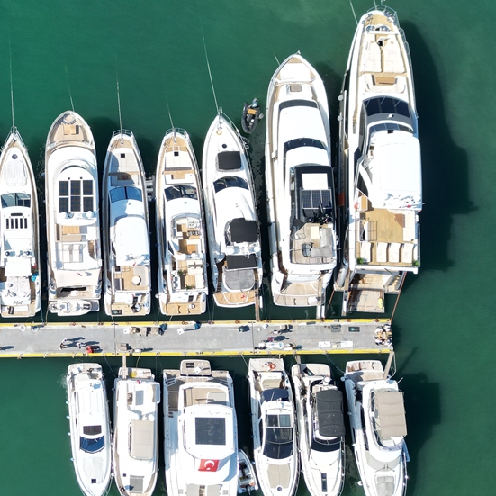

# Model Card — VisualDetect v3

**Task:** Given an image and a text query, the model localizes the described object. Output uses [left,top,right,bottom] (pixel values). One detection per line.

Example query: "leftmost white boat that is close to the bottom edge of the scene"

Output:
[64,352,115,496]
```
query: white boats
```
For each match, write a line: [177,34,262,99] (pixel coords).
[201,41,266,322]
[327,355,412,496]
[101,83,155,322]
[49,300,92,314]
[157,355,241,496]
[260,45,352,319]
[110,356,164,496]
[153,102,210,321]
[0,115,44,318]
[291,358,347,496]
[241,352,300,496]
[64,352,115,496]
[328,0,437,320]
[41,71,104,322]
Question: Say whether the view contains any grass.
No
